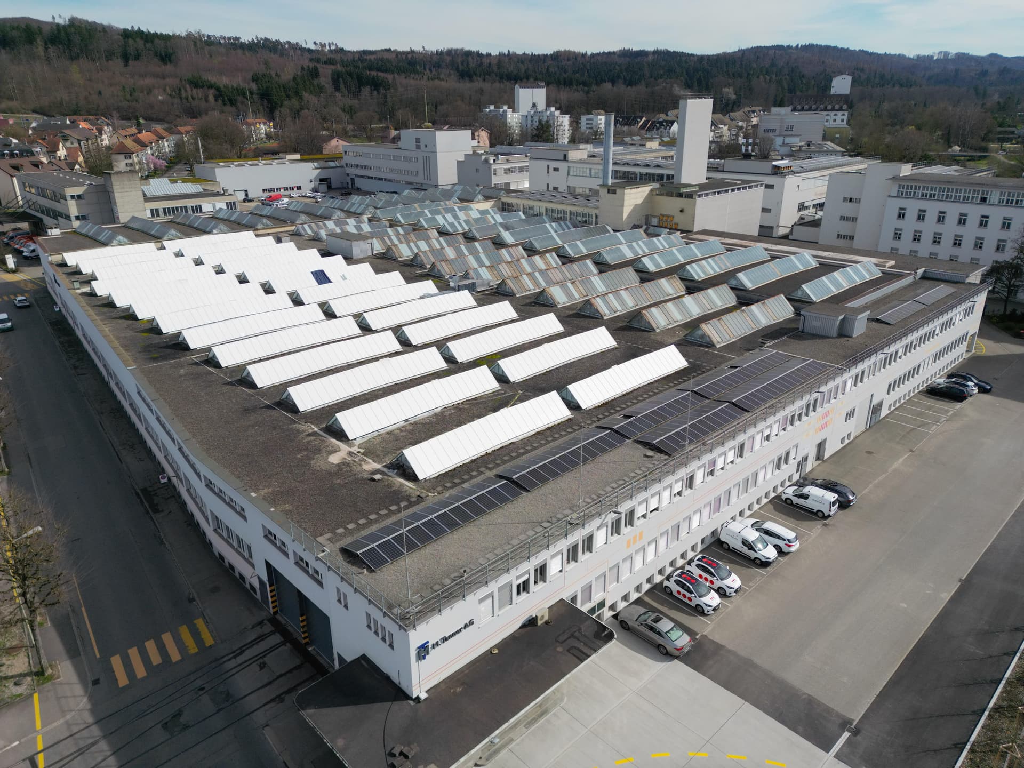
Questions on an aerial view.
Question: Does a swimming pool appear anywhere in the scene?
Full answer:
No, there's no swimming pool here.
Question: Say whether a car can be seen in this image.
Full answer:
Yes, this view includes a car.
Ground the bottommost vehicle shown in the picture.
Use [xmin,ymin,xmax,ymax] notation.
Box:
[615,602,695,657]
